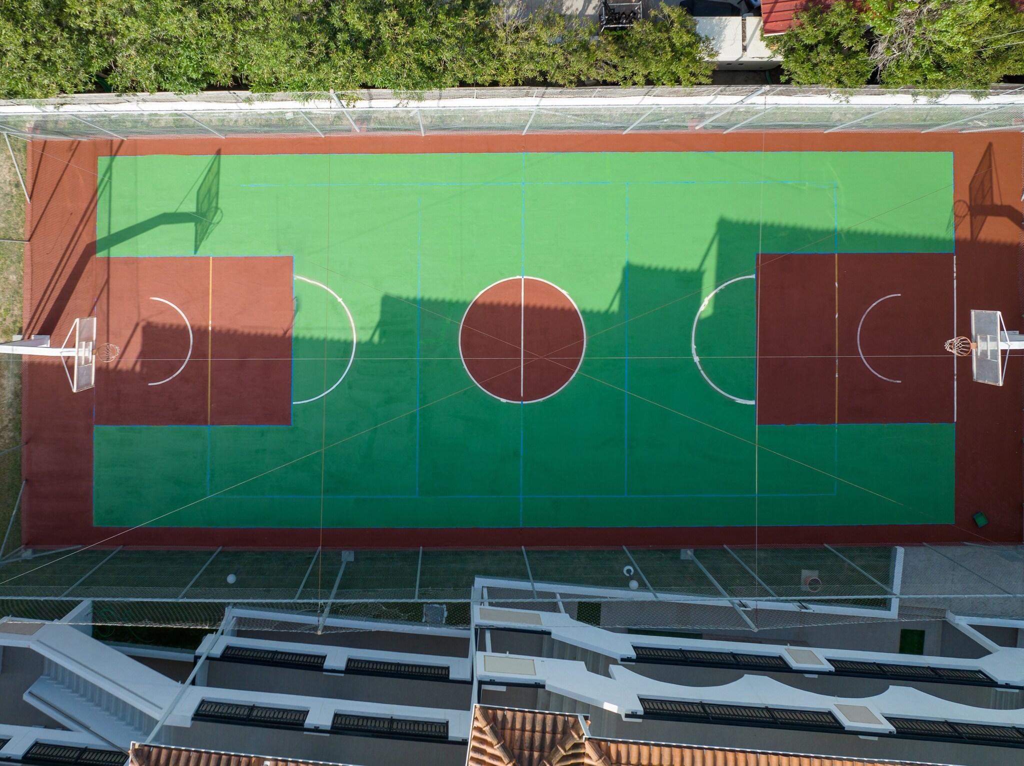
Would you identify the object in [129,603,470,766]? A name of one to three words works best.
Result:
house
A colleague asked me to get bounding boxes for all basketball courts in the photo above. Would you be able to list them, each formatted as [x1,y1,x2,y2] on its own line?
[19,127,1024,555]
